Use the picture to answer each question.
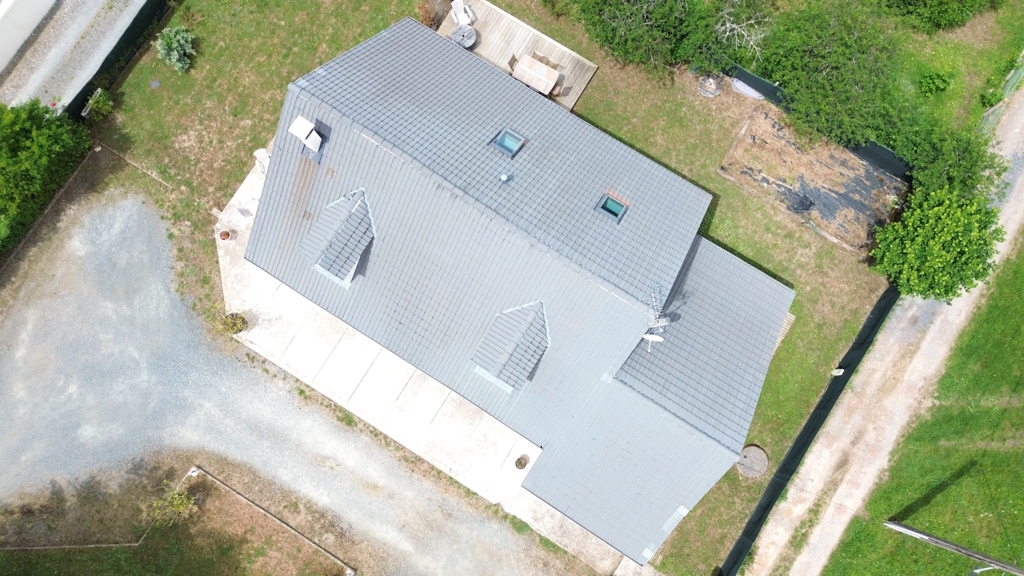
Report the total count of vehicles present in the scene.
zero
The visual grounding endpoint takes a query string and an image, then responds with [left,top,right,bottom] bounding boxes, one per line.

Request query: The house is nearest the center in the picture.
[243,16,796,567]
